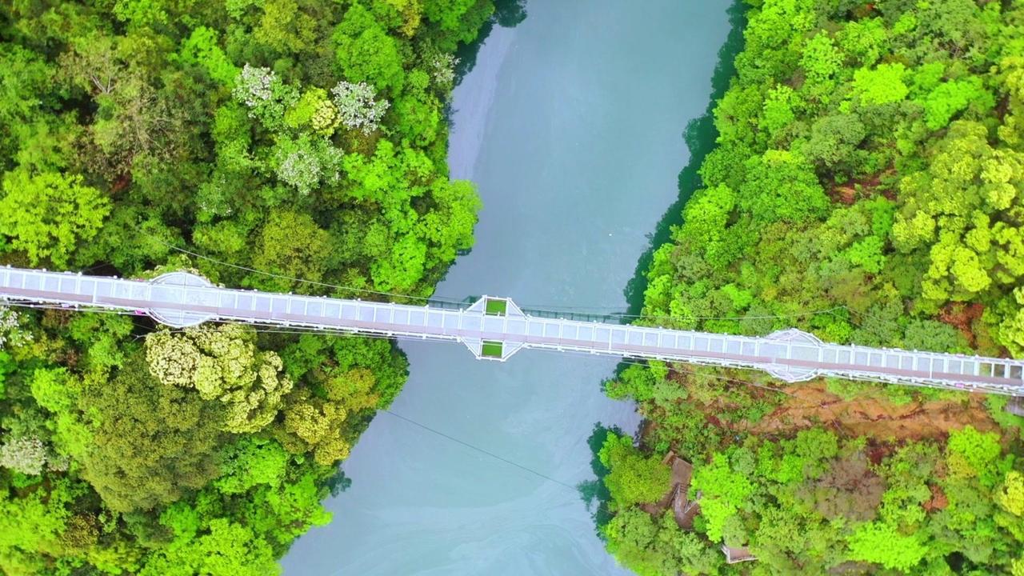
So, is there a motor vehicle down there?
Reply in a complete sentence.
No, there is no motor vehicle in the image.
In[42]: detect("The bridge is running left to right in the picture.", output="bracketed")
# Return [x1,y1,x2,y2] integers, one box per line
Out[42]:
[0,233,1024,398]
